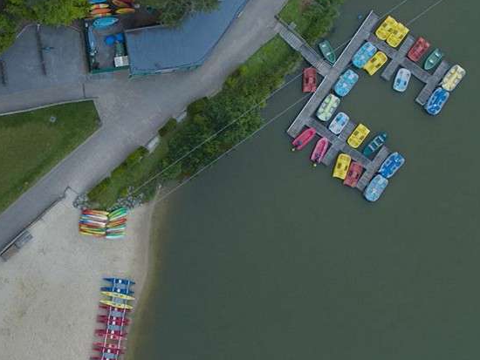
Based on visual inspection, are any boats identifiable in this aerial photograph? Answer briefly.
Yes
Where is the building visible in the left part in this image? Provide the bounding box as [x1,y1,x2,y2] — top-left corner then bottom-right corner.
[123,0,250,80]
